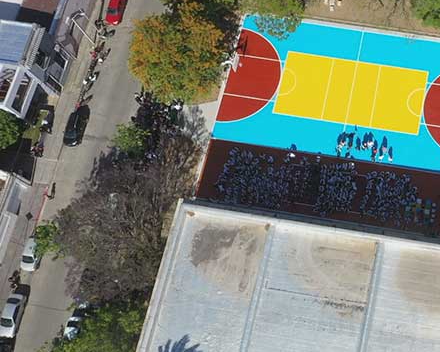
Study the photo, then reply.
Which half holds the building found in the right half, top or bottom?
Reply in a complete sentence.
You can find the building found in the right half in the bottom half.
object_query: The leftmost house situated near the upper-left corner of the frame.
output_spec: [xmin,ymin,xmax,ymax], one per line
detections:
[0,20,38,84]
